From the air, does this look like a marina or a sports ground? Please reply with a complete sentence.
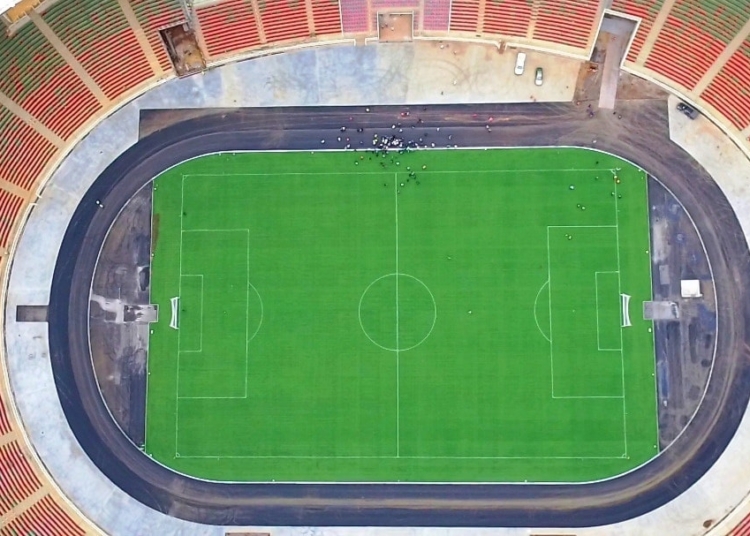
This image shows a sports ground.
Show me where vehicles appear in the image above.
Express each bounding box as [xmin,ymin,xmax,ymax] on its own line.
[514,52,525,75]
[675,103,699,121]
[534,67,543,85]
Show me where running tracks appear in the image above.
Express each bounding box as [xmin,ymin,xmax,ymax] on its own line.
[49,107,750,528]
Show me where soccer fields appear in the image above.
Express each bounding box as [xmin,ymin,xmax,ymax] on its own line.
[145,148,659,482]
